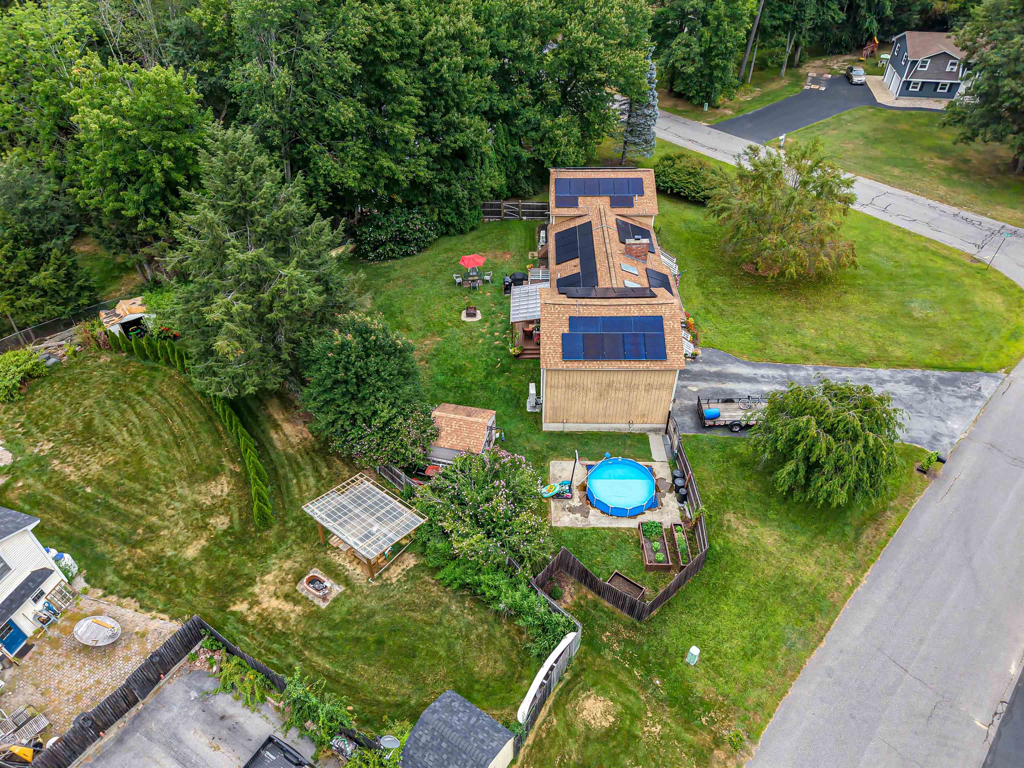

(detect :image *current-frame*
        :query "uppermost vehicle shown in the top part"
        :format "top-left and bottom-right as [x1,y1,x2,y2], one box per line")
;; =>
[842,65,873,86]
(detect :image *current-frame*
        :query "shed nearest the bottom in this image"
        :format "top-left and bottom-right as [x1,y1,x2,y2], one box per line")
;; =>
[391,691,517,768]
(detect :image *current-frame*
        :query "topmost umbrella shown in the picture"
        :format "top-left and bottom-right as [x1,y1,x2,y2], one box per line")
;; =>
[457,253,488,272]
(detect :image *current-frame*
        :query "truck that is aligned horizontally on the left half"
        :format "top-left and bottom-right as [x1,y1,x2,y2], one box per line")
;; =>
[240,734,313,768]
